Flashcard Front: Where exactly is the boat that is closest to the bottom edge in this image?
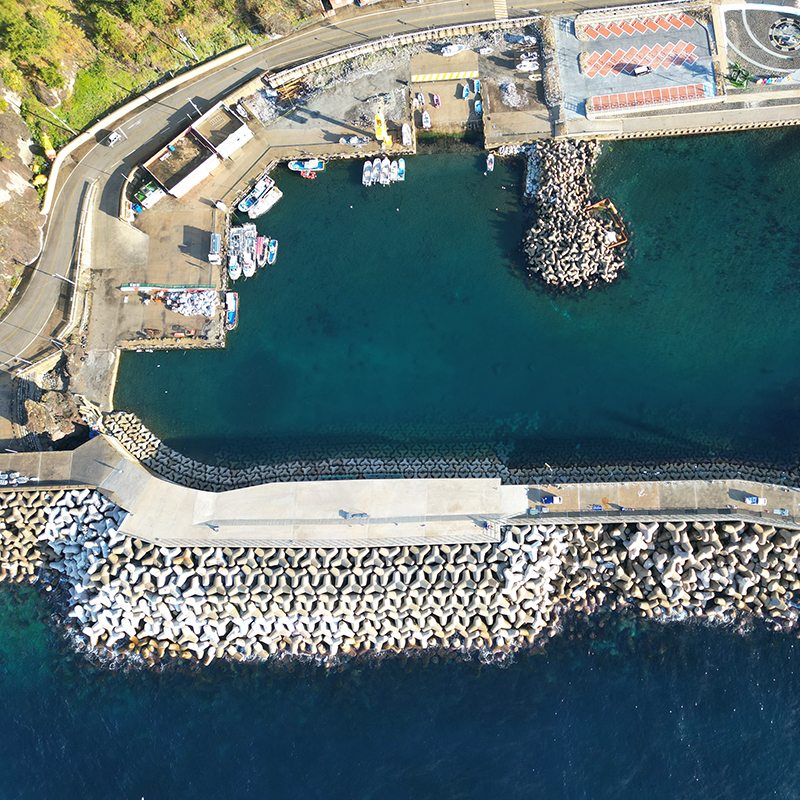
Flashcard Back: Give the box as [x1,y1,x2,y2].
[227,293,241,330]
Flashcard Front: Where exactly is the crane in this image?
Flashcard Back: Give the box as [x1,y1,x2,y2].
[373,97,392,148]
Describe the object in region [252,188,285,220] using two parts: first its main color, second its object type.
white boat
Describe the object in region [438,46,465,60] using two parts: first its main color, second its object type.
white boat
